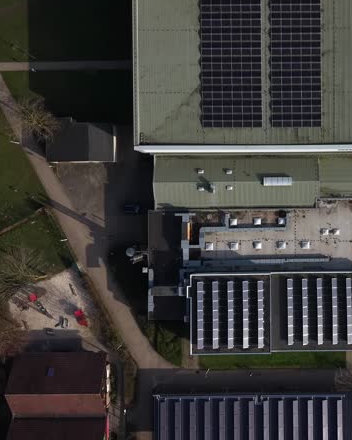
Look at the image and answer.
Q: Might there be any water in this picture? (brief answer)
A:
No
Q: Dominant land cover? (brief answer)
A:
buildings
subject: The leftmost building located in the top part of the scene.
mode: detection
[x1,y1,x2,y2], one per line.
[47,121,120,163]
